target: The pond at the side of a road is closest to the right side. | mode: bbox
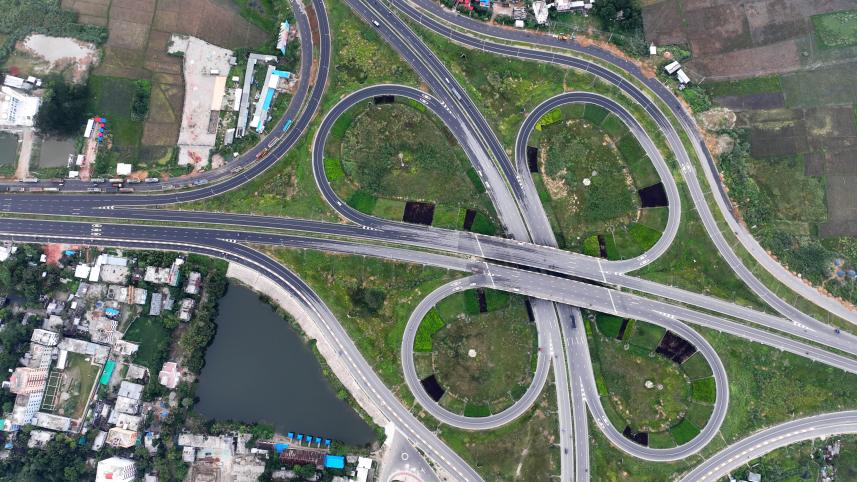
[192,284,373,444]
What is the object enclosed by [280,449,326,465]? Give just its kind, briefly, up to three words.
shed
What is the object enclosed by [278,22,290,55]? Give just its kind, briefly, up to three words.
building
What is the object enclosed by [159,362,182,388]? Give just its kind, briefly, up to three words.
house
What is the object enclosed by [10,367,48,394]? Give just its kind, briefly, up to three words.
building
